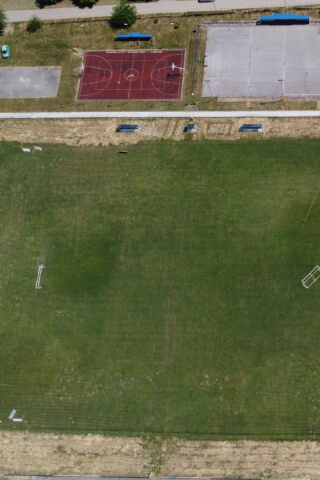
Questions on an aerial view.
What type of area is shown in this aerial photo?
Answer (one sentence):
The area seen from above is a sports ground.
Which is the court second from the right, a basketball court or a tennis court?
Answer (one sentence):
Looking closely, the court second from the right is a basketball court.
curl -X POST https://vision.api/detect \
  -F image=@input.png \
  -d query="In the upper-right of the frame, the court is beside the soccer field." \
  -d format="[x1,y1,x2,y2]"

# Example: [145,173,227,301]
[200,22,320,100]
